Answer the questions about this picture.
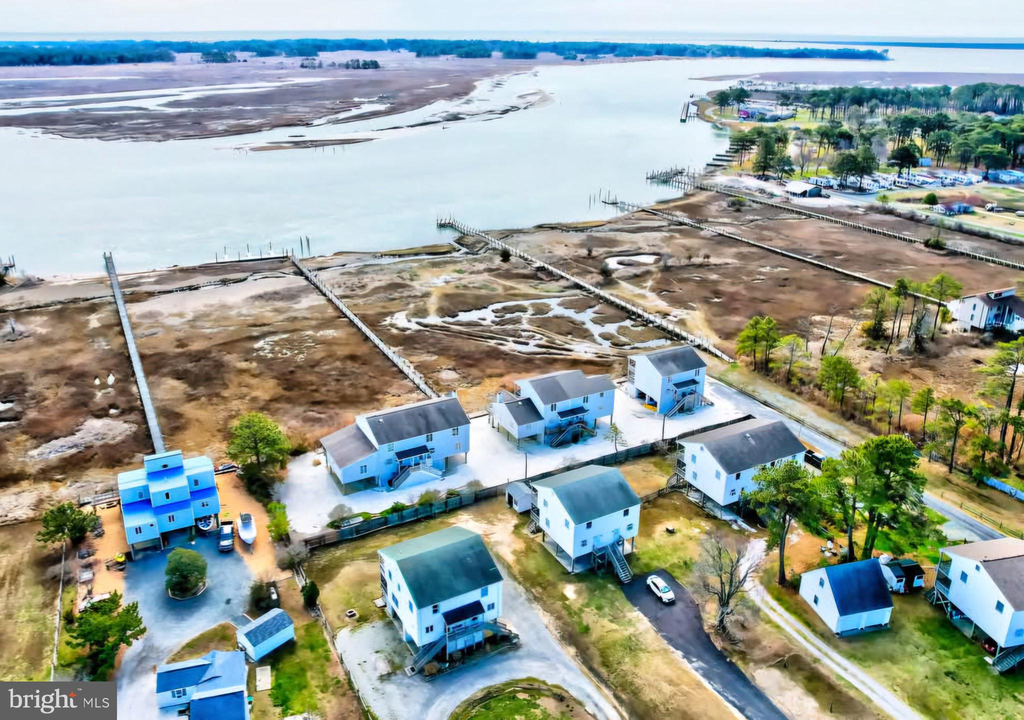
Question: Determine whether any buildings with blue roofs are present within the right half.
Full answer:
Yes, looking within the right half, one can make out a building with a blue roof.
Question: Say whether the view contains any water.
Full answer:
Yes, water shows up in the scene.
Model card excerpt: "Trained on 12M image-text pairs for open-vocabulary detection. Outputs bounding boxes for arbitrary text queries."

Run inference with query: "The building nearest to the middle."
[489,369,617,452]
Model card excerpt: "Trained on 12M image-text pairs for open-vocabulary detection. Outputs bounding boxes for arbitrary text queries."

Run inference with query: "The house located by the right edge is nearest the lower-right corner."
[914,537,1024,679]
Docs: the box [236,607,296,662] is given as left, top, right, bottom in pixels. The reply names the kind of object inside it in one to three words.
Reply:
shed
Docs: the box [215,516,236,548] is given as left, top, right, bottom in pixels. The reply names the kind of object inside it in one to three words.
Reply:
truck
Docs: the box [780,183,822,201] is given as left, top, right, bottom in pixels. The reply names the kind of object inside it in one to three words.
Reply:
building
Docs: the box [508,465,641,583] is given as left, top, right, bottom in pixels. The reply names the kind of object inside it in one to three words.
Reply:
house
